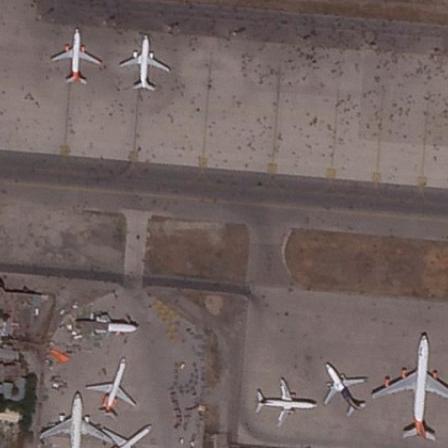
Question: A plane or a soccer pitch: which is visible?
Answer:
plane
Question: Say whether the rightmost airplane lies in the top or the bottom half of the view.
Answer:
bottom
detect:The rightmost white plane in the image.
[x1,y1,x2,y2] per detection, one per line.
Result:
[373,333,448,439]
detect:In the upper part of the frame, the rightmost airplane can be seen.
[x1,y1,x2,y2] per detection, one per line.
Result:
[120,36,169,90]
